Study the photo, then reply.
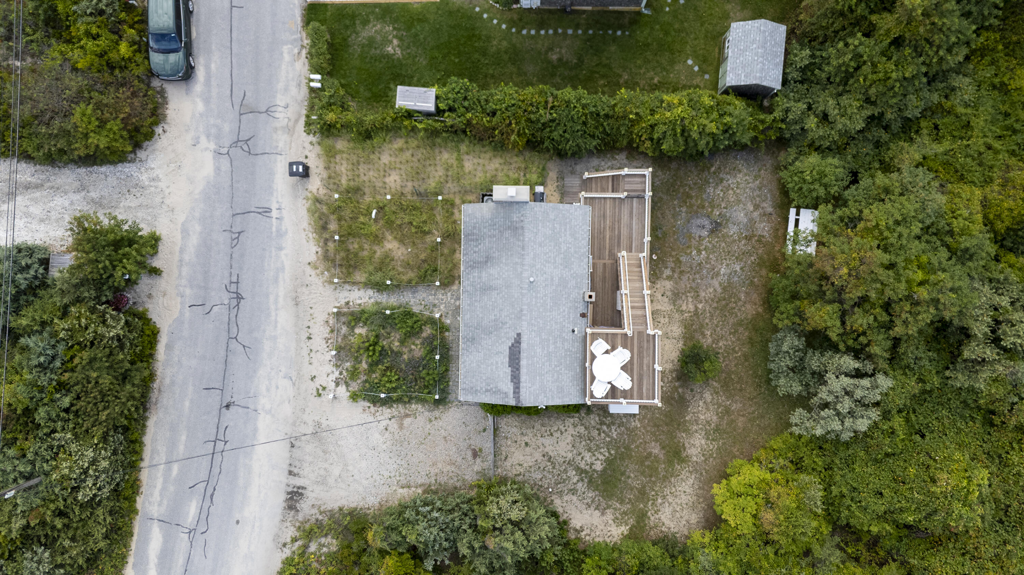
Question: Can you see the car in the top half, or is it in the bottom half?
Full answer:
The car is in the top half of the image.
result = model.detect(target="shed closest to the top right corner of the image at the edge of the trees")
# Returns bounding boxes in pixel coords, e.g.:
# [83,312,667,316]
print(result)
[717,19,786,98]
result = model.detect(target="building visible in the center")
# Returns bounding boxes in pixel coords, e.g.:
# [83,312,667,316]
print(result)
[456,185,595,409]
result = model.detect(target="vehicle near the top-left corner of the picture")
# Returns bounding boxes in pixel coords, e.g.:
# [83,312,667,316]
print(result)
[141,0,195,81]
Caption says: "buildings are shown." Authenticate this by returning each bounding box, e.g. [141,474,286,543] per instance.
[456,185,595,409]
[717,19,786,98]
[518,0,647,15]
